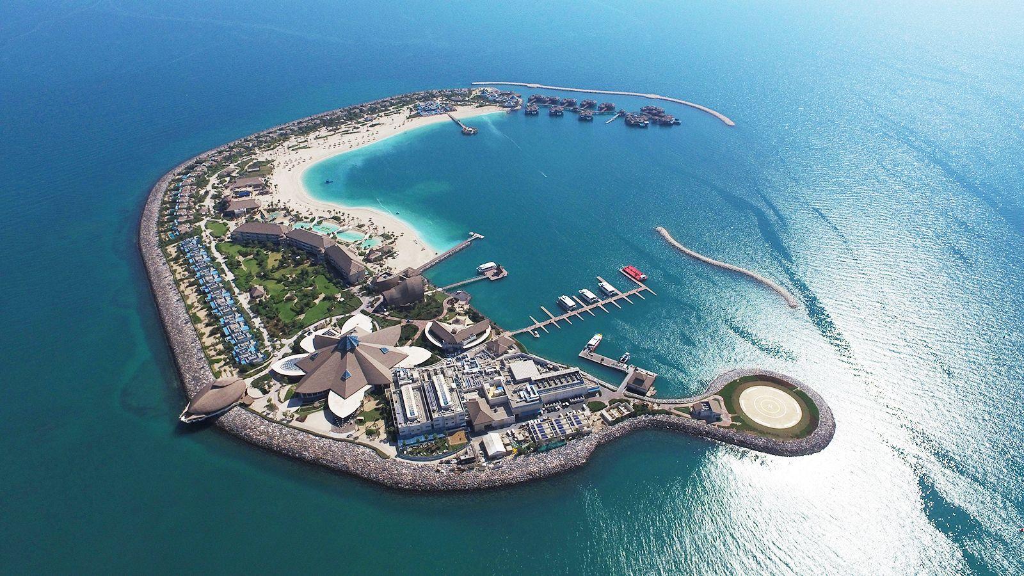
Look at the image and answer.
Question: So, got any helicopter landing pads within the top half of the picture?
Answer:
No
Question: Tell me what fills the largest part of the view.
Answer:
water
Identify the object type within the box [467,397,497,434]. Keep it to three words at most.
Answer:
house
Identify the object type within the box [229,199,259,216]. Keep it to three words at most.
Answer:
building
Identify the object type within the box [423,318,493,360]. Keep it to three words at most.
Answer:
building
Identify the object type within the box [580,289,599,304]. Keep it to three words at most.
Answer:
ship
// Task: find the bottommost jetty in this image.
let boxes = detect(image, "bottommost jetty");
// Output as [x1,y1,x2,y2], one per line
[579,349,658,396]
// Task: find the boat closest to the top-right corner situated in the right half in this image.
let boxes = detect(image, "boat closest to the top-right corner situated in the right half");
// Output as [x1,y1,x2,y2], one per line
[621,266,647,281]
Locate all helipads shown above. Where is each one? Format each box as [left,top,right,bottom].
[736,386,806,431]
